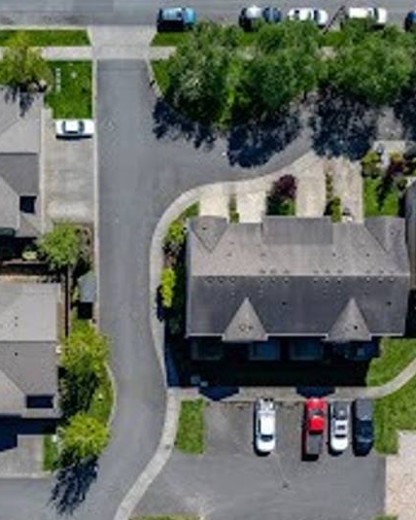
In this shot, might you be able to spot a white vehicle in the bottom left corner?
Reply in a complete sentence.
No, looking in the bottom left corner, there is no white vehicle.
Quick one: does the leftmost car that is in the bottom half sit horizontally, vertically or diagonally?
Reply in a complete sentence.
What the image shows is the leftmost car that is in the bottom half lying vertically.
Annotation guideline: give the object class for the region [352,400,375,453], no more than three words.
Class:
truck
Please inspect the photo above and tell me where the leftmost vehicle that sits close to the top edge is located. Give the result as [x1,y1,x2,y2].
[155,8,196,30]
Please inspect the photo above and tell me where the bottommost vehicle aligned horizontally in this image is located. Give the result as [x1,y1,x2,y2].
[52,119,95,139]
